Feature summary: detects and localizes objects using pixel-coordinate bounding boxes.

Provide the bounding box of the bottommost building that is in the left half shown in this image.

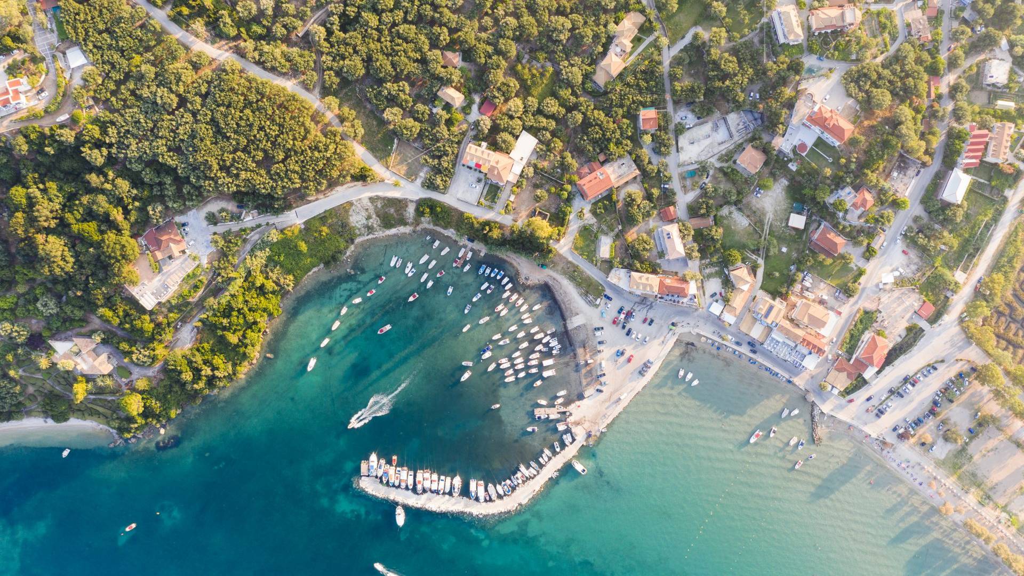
[49,338,118,375]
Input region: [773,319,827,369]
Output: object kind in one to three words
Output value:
building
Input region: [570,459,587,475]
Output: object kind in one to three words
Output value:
boat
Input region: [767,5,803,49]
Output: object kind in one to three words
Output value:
house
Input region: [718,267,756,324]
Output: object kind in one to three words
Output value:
house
